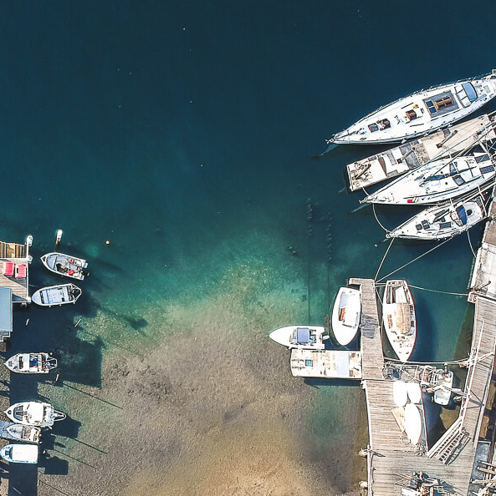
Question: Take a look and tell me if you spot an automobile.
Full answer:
No, the scene contains no automobile.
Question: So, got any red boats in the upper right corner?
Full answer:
No, in the upper right corner there is no red boat.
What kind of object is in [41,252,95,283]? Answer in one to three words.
boat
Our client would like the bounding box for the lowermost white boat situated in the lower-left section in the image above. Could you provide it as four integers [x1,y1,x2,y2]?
[0,443,39,465]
